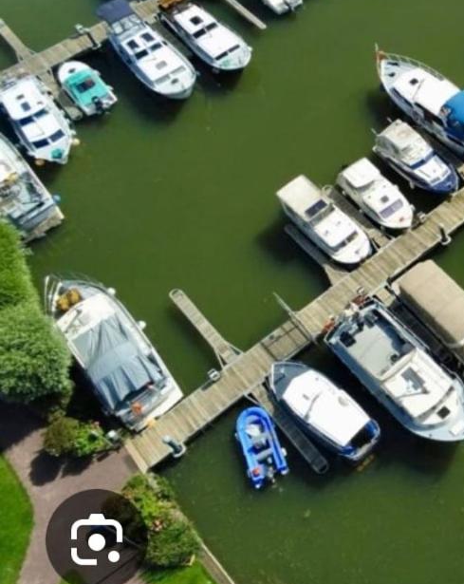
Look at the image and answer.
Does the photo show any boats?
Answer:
Yes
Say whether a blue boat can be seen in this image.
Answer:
Yes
